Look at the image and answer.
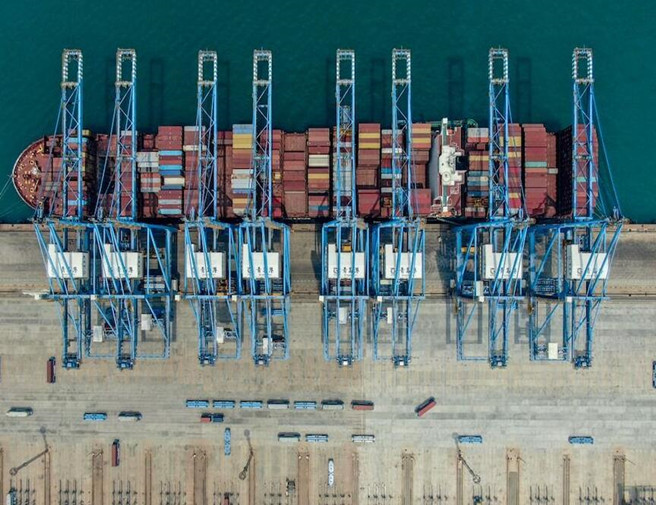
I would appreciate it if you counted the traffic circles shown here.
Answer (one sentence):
No traffic circles are visible.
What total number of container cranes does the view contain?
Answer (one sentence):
In total, 8 container cranes can be seen.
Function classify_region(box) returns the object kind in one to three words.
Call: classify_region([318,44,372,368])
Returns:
container crane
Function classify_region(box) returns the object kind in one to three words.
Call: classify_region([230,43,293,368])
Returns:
container crane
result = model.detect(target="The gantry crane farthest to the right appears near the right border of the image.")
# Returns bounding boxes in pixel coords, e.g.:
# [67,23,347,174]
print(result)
[525,45,634,367]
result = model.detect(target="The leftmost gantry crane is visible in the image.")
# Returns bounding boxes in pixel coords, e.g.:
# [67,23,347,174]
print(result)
[10,42,127,368]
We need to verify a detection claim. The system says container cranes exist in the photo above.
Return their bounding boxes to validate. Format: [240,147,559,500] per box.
[525,45,634,367]
[10,42,127,368]
[172,43,247,368]
[368,44,430,367]
[230,43,293,368]
[85,42,177,368]
[318,44,372,368]
[450,44,539,367]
